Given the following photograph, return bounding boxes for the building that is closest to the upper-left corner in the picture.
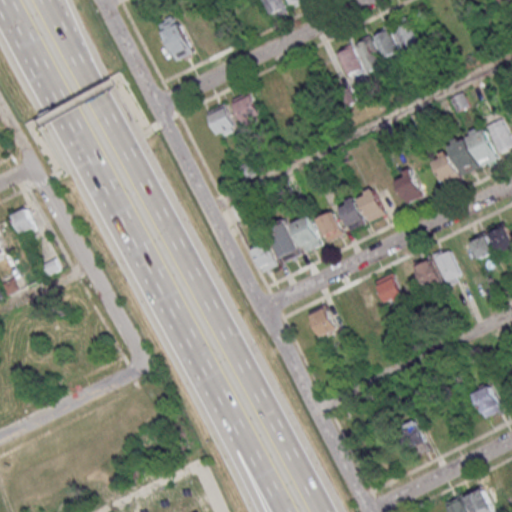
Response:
[160,17,194,63]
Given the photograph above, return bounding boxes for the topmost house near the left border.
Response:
[10,206,40,236]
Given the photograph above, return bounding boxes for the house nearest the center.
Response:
[252,242,280,273]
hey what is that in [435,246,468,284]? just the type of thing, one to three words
house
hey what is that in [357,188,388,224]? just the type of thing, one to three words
house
